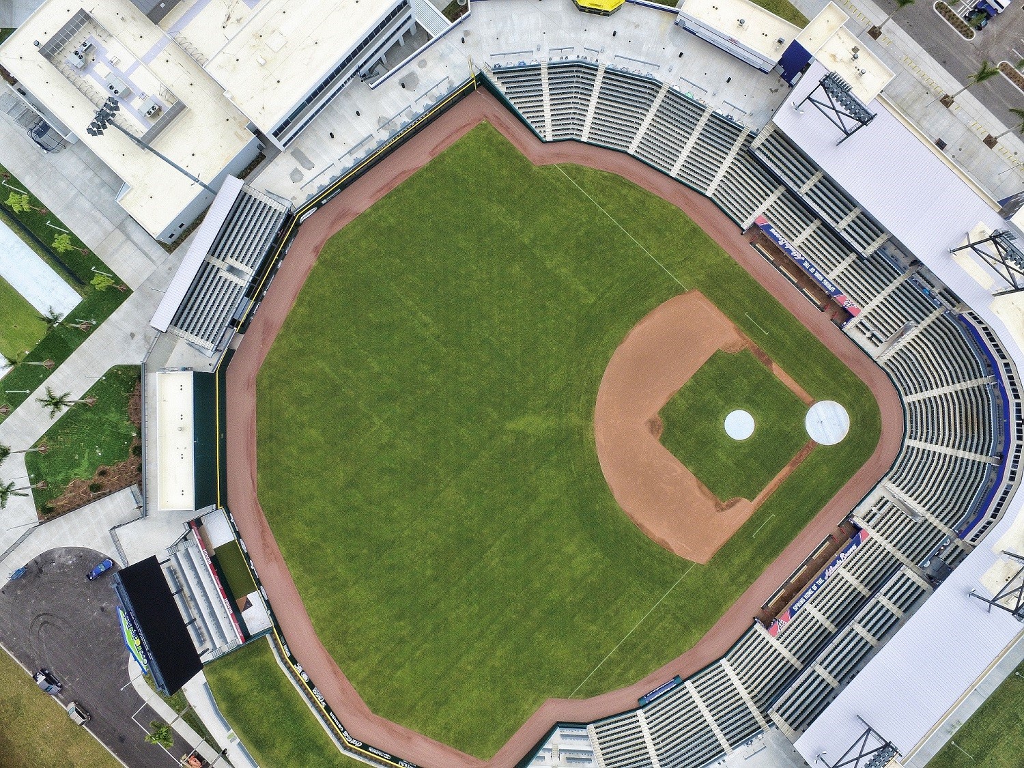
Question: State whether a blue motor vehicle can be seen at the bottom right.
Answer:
No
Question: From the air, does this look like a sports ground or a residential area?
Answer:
sports ground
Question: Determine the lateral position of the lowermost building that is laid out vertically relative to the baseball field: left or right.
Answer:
to the left of it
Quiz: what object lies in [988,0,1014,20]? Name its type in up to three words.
vehicle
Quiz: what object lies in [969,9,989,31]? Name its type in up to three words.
car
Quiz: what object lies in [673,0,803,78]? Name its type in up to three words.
building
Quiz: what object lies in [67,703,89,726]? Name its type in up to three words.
car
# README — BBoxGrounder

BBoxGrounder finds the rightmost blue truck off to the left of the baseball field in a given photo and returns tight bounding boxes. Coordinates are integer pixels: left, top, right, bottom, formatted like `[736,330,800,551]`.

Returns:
[85,559,112,582]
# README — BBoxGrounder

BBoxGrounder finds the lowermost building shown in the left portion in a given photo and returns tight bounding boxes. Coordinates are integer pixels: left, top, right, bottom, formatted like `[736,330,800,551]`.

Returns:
[158,371,217,511]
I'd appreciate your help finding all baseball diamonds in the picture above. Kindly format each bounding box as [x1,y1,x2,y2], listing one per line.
[220,89,904,768]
